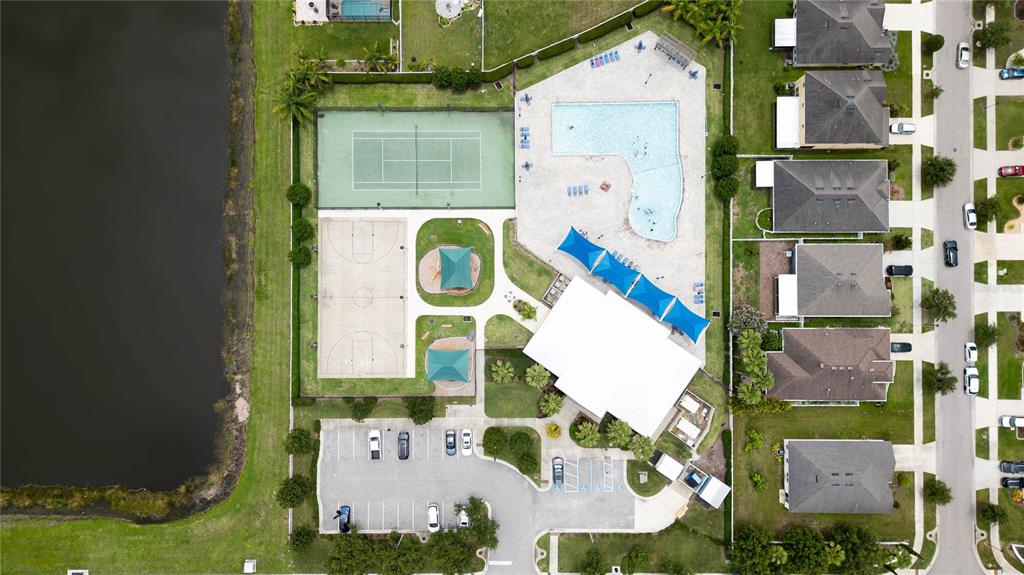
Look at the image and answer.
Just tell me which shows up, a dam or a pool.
pool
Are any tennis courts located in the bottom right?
No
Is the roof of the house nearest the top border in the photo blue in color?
No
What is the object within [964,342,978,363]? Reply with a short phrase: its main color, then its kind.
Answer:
white car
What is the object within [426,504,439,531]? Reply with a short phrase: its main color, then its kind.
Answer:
white vehicle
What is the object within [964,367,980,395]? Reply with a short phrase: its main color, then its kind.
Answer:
white car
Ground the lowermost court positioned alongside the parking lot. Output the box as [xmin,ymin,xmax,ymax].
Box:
[318,217,407,374]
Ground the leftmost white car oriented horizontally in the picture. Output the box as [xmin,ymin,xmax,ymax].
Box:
[890,122,916,134]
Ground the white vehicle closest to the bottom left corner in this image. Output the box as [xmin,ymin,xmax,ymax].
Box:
[368,430,381,461]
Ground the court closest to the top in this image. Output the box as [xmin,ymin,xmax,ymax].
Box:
[318,111,515,208]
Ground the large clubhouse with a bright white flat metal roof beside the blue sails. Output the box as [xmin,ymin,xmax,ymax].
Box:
[522,276,703,440]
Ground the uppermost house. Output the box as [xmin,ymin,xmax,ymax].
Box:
[771,0,893,68]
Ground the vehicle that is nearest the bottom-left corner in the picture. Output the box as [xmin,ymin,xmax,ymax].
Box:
[333,505,351,533]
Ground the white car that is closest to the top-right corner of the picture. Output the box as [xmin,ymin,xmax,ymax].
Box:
[956,42,971,69]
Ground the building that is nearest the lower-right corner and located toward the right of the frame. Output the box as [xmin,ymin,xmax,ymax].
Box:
[783,439,895,513]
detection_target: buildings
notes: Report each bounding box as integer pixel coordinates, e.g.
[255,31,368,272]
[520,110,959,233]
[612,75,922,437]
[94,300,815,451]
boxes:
[773,71,890,150]
[695,470,731,509]
[752,161,893,233]
[522,276,703,440]
[676,417,700,439]
[762,328,894,401]
[651,449,684,481]
[774,244,892,316]
[783,439,895,513]
[771,0,893,68]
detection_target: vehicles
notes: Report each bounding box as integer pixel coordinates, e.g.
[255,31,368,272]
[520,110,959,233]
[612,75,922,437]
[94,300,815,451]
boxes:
[445,429,457,456]
[397,432,409,459]
[426,504,439,531]
[333,505,351,533]
[886,264,915,277]
[999,461,1024,474]
[368,430,381,461]
[457,503,469,530]
[942,239,958,266]
[998,66,1024,80]
[1000,477,1024,490]
[998,165,1024,177]
[552,458,564,485]
[963,203,978,230]
[964,342,978,363]
[964,367,980,395]
[956,42,971,69]
[998,416,1024,429]
[890,122,916,134]
[891,342,914,354]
